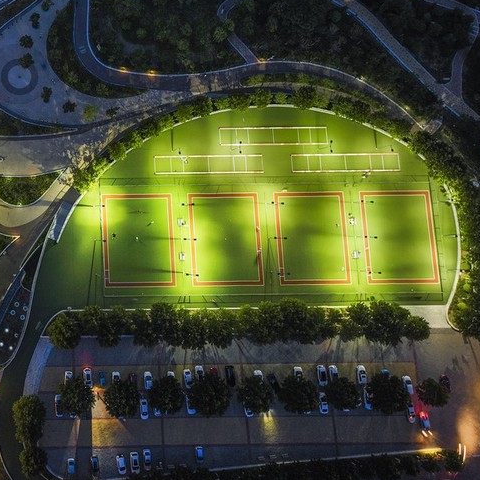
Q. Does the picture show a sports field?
Yes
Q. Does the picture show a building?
No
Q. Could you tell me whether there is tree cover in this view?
Yes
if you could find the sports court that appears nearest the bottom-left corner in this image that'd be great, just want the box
[102,194,176,287]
